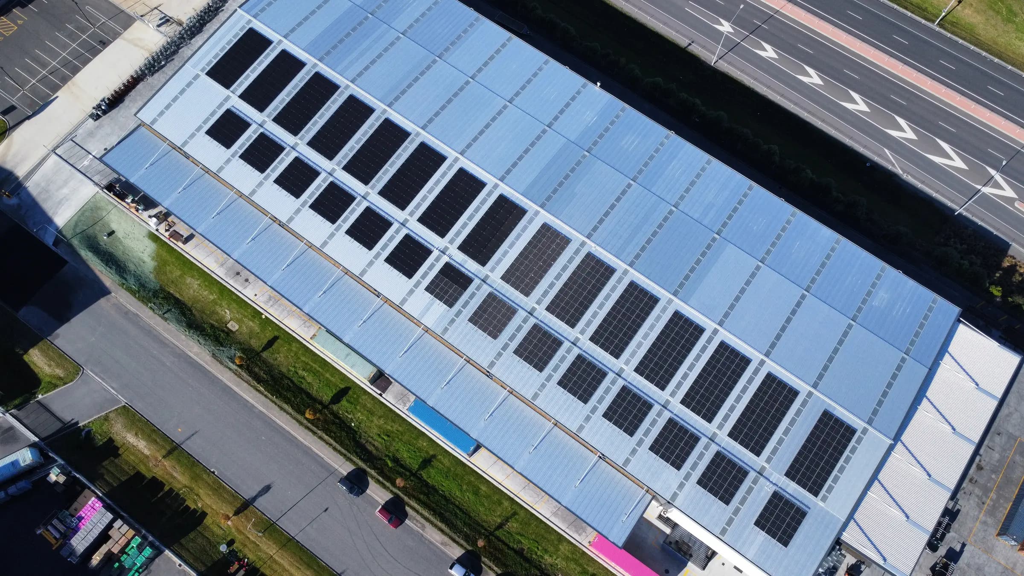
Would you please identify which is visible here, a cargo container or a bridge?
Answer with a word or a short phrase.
cargo container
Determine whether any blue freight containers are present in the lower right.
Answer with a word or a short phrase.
Yes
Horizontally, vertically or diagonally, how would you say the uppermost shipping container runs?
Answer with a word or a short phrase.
diagonally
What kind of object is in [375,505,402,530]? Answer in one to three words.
car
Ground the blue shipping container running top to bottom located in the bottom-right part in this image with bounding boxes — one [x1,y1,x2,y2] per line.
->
[996,476,1024,545]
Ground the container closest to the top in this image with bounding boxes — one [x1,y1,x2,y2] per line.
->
[311,328,379,383]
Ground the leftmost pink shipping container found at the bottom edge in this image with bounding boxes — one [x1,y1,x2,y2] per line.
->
[588,534,657,576]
